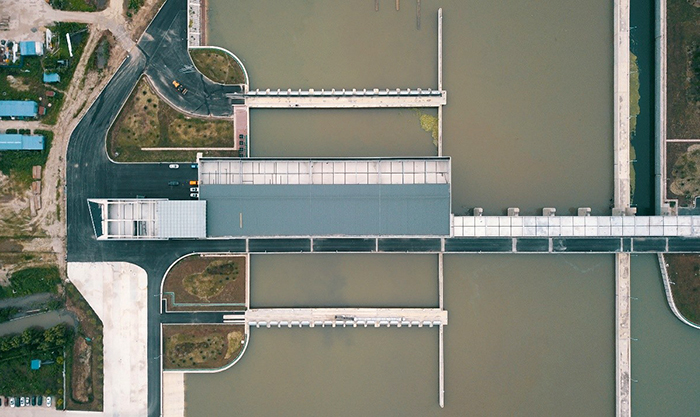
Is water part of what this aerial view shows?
Yes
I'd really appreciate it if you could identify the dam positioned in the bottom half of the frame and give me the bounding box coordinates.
[249,308,447,328]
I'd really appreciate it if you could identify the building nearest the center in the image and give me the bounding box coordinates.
[198,153,451,239]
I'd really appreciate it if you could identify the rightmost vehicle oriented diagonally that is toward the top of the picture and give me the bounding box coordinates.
[172,79,189,96]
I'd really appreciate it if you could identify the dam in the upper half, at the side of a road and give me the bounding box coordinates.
[247,88,447,109]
